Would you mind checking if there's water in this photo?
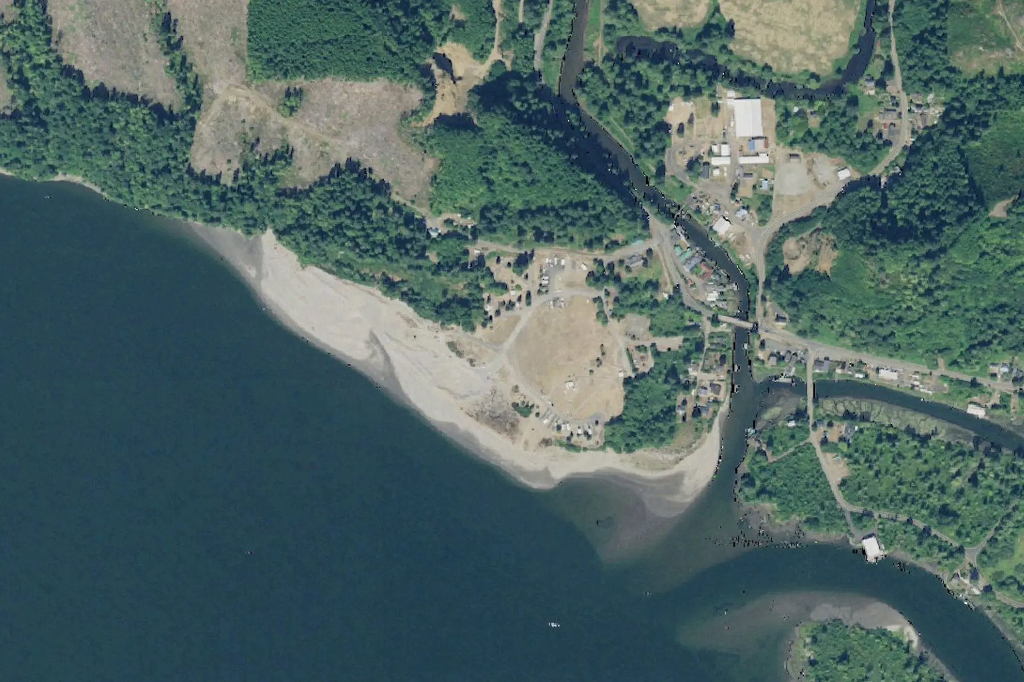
Yes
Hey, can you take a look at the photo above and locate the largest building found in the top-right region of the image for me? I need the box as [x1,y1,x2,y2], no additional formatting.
[734,98,763,136]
